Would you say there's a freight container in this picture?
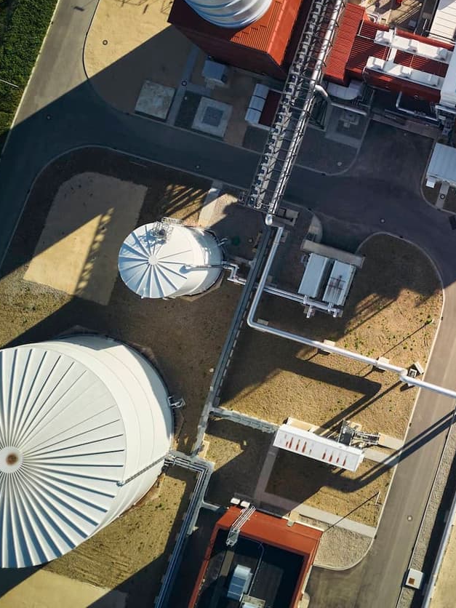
Yes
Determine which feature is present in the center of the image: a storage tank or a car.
storage tank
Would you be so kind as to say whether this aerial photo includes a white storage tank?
Yes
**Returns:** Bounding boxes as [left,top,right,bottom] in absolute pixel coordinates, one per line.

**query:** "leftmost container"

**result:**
[297,252,334,317]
